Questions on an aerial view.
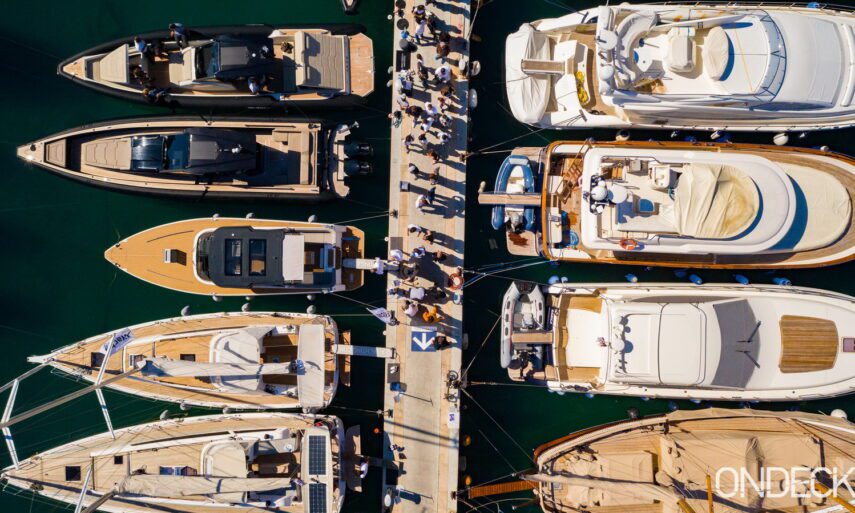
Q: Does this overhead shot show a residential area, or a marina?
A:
marina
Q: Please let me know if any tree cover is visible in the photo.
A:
No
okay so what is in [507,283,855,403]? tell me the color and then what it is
white boat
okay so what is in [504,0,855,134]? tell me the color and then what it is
white boat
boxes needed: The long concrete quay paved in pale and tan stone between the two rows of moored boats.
[383,0,471,513]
